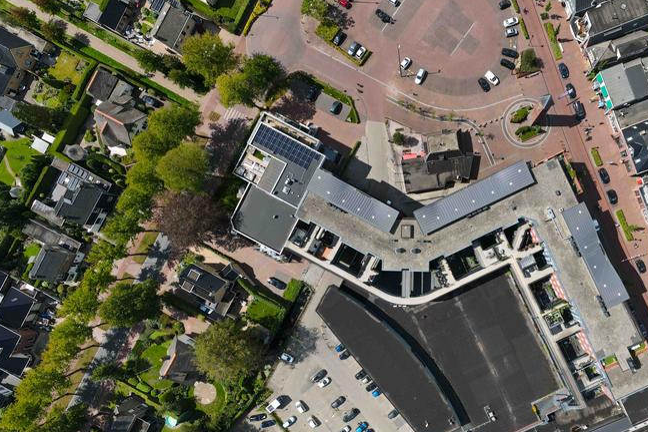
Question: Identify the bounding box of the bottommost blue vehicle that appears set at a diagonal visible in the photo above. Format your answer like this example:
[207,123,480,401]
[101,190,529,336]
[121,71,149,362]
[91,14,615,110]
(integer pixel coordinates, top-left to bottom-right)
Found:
[354,418,370,432]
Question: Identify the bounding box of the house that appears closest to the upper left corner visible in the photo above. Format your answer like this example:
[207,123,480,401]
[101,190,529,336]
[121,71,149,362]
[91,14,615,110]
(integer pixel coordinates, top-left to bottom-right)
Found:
[0,26,39,67]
